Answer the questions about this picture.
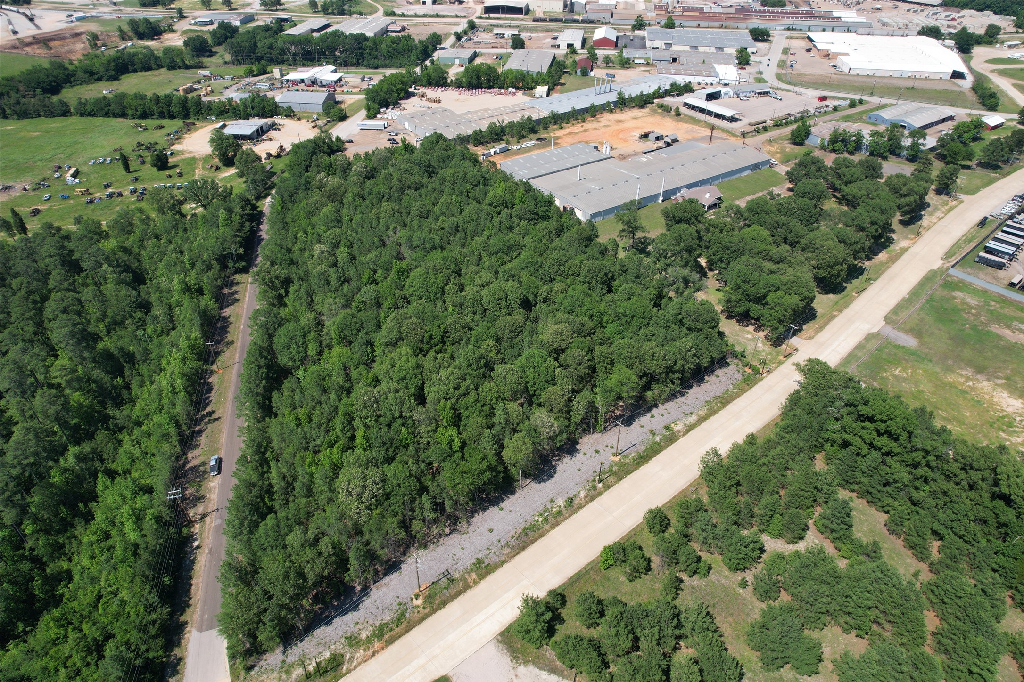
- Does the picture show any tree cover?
Yes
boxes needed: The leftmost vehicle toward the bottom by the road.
[207,453,220,475]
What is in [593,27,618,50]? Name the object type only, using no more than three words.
barn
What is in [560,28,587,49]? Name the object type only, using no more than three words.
shed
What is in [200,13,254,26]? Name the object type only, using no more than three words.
building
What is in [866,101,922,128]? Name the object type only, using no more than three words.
building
